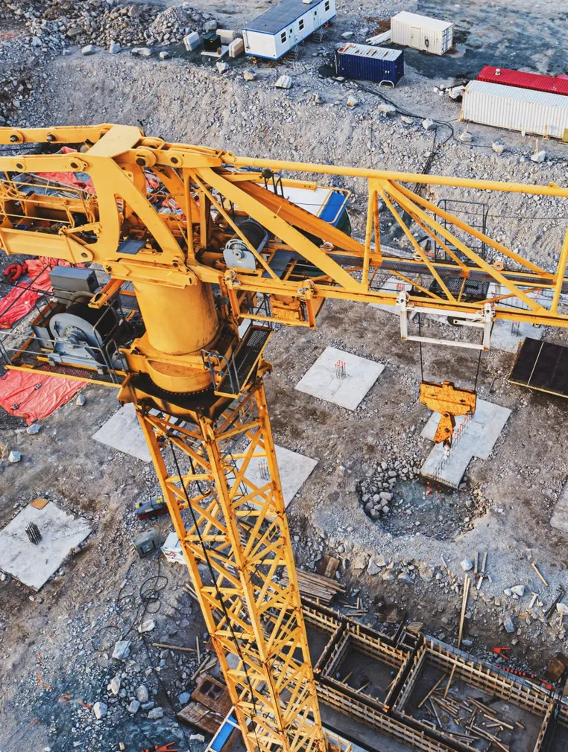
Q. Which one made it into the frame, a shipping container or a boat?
shipping container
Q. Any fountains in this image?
No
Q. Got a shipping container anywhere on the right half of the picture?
Yes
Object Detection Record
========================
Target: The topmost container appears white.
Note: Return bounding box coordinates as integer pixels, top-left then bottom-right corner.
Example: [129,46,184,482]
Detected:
[392,5,456,56]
